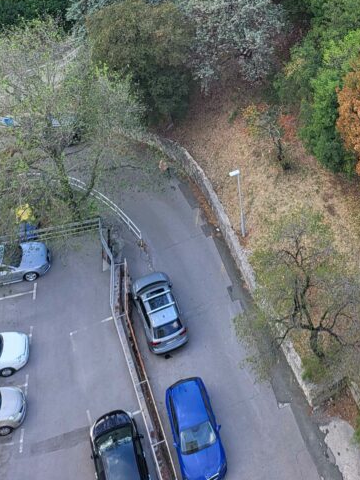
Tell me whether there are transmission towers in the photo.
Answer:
No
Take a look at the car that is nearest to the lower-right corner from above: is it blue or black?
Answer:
blue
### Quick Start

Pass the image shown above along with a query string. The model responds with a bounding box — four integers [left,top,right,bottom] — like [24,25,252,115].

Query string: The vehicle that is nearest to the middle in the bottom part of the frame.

[128,263,189,358]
